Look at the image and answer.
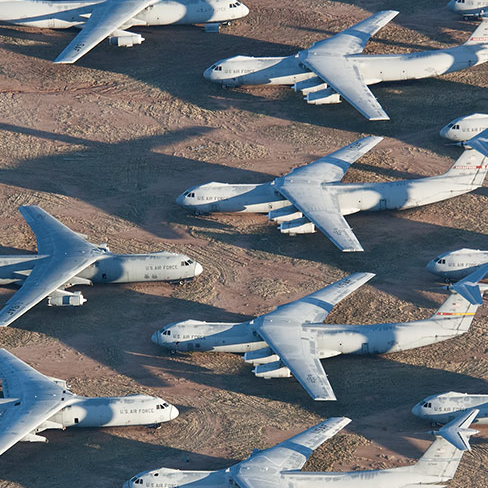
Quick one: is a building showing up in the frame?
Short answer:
No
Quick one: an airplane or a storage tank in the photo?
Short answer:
airplane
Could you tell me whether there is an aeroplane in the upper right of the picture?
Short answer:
Yes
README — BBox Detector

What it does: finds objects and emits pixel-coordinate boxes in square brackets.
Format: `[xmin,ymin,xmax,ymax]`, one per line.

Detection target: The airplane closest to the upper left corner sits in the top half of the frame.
[0,0,249,65]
